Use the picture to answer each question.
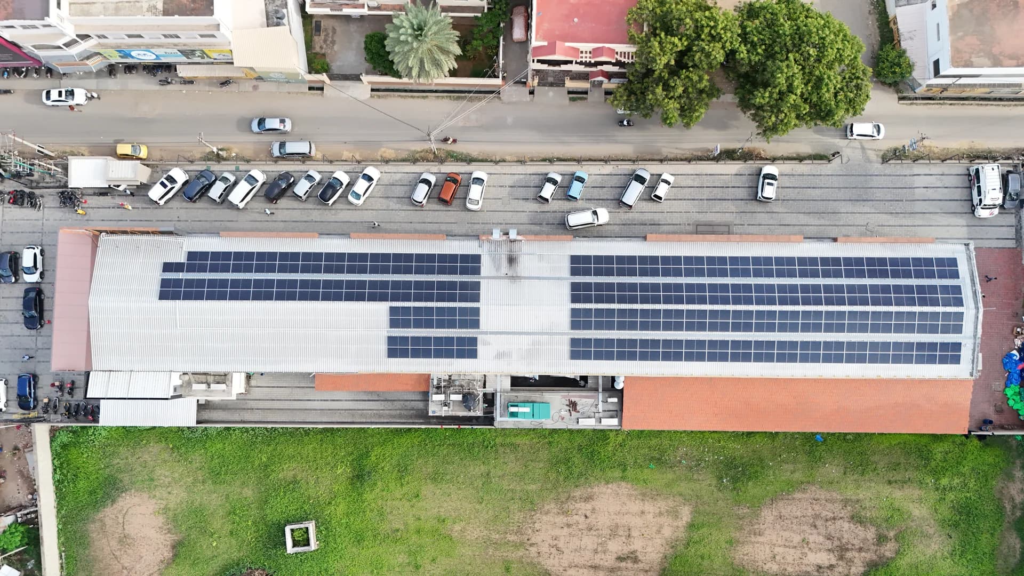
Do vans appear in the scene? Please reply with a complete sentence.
Yes, looking at the shot, I can spot a van.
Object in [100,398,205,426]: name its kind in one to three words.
shed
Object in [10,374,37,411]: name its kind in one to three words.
car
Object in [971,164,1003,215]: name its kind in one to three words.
van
